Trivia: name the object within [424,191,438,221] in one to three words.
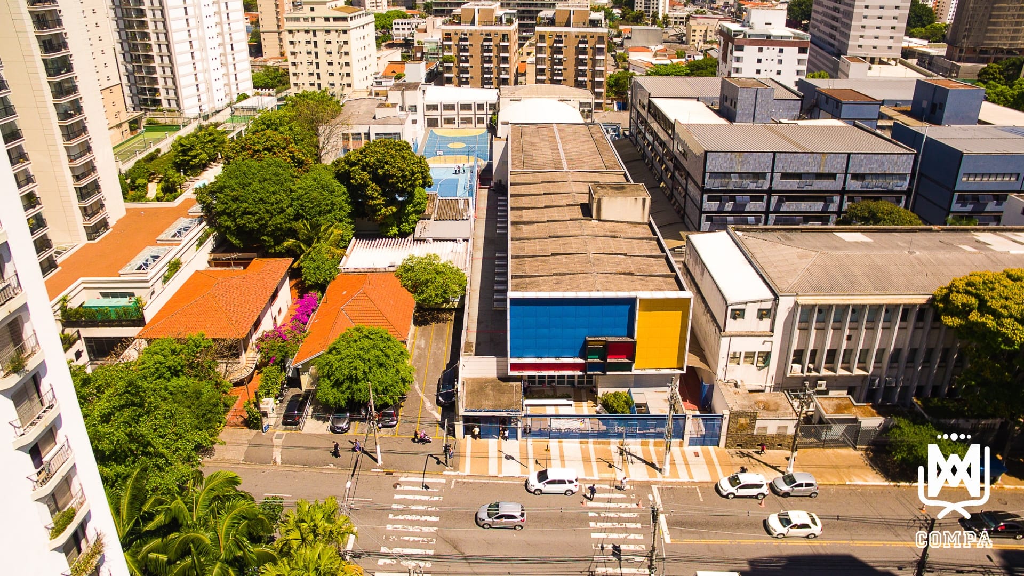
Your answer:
shed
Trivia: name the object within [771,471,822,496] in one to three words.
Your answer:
car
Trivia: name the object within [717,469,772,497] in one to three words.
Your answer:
car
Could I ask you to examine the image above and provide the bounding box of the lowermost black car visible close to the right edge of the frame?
[966,510,1024,538]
